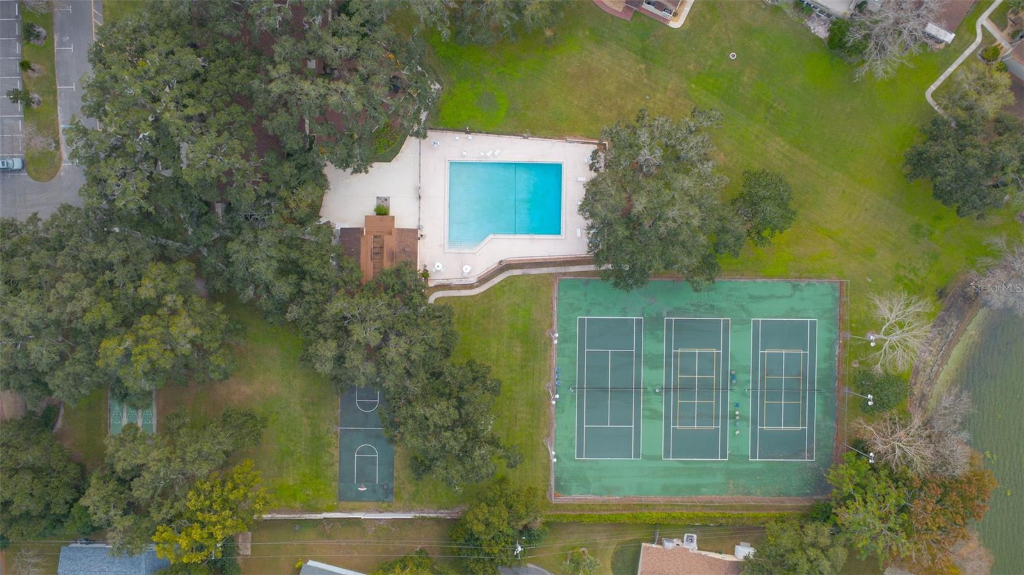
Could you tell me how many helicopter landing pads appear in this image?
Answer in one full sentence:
There are no helicopter landing pads in the image.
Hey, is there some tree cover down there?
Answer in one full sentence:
Yes, tree cover shows up in the scene.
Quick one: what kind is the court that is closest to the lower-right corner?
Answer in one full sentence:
I'd identify the court that is closest to the lower-right corner as a tennis court.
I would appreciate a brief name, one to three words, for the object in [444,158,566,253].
swimming pool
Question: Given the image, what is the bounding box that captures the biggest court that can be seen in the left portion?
[337,381,396,502]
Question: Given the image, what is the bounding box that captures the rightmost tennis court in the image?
[749,318,818,461]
